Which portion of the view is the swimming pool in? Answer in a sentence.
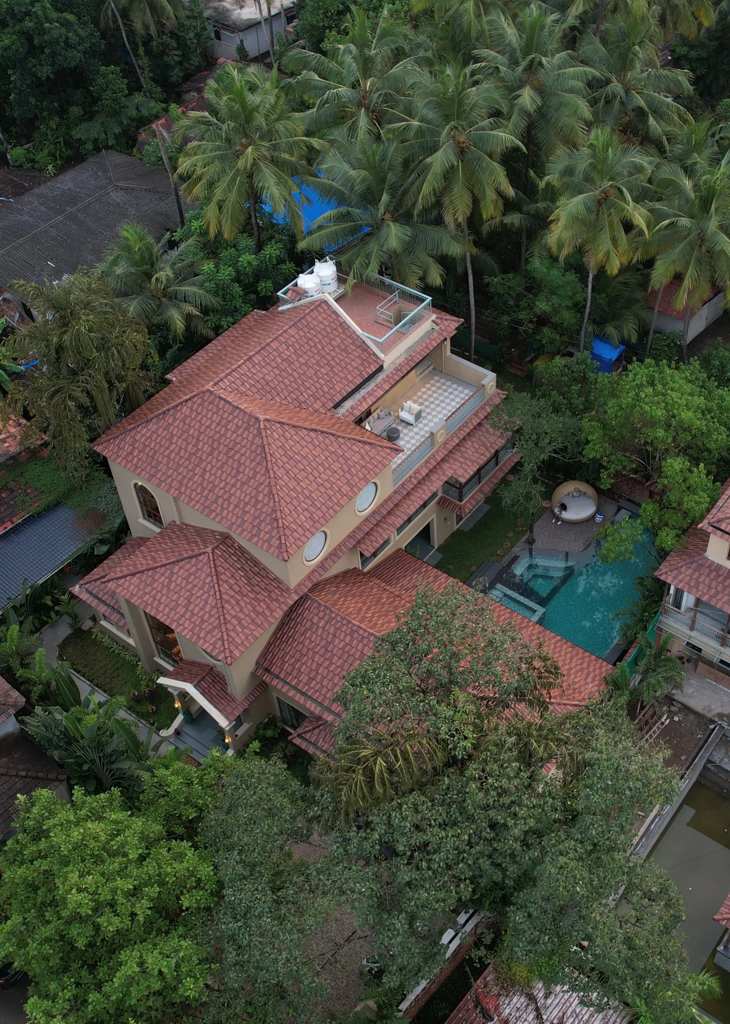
The swimming pool sits in the right section of the image.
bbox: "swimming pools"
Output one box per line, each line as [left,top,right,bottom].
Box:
[473,498,691,660]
